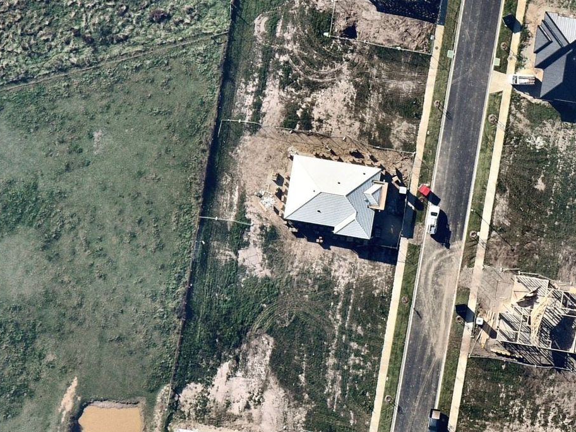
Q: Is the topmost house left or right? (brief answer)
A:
right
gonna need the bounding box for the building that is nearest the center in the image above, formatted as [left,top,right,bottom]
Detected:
[283,154,388,239]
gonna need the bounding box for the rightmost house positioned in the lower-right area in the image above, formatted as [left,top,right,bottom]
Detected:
[497,275,576,354]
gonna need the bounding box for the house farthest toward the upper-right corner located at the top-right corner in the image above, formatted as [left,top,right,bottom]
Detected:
[533,12,576,103]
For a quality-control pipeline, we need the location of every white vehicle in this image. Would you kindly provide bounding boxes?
[507,72,537,87]
[424,204,440,236]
